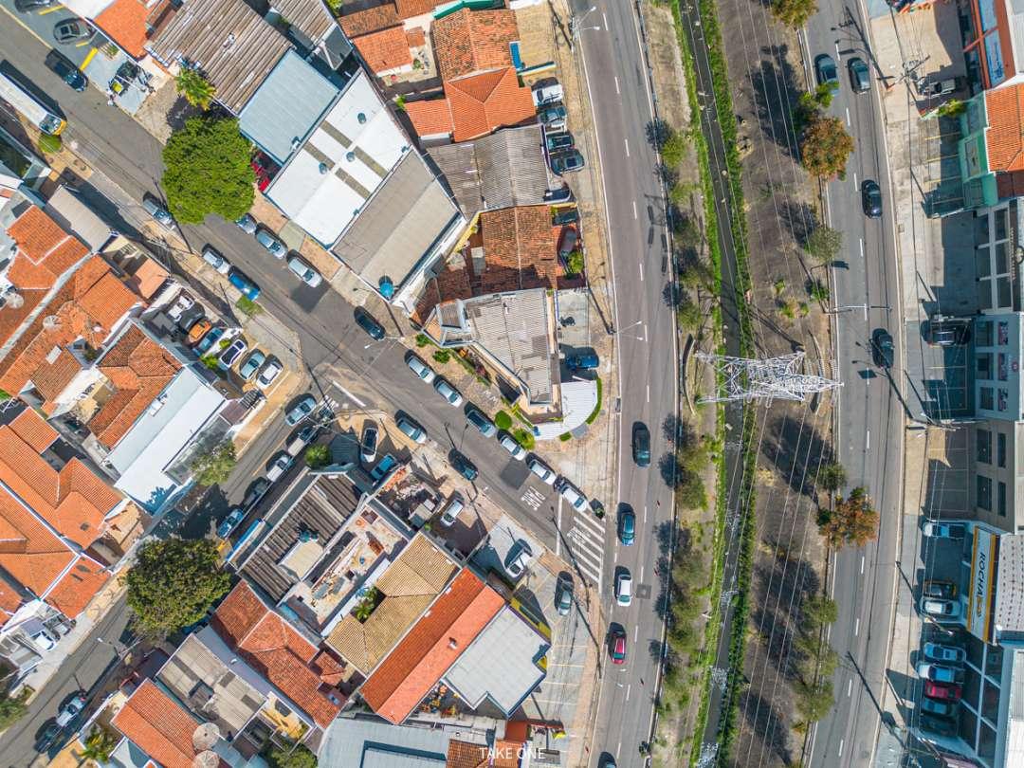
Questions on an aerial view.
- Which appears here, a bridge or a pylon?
pylon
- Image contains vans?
Yes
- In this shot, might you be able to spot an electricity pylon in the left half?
No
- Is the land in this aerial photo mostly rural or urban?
urban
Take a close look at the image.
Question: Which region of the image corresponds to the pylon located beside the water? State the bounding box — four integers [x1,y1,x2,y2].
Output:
[693,349,846,407]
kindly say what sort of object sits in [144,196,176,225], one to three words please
car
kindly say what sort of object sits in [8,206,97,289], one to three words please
house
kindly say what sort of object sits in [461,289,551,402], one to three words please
building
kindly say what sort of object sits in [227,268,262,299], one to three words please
van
